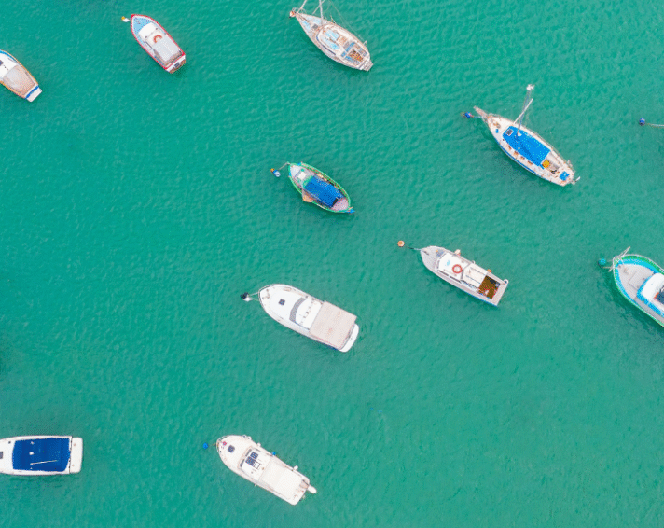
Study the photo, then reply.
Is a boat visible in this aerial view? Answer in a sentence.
Yes, a boat can be made out from above.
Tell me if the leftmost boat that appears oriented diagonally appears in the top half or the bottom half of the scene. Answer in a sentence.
Seen from above, the leftmost boat that appears oriented diagonally lies in the top half of the view.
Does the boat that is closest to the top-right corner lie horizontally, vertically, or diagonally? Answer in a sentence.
In this picture, the boat that is closest to the top-right corner lies diagonally.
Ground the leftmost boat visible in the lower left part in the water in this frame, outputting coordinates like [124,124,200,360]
[0,435,84,475]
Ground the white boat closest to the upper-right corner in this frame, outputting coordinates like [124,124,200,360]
[474,85,582,190]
